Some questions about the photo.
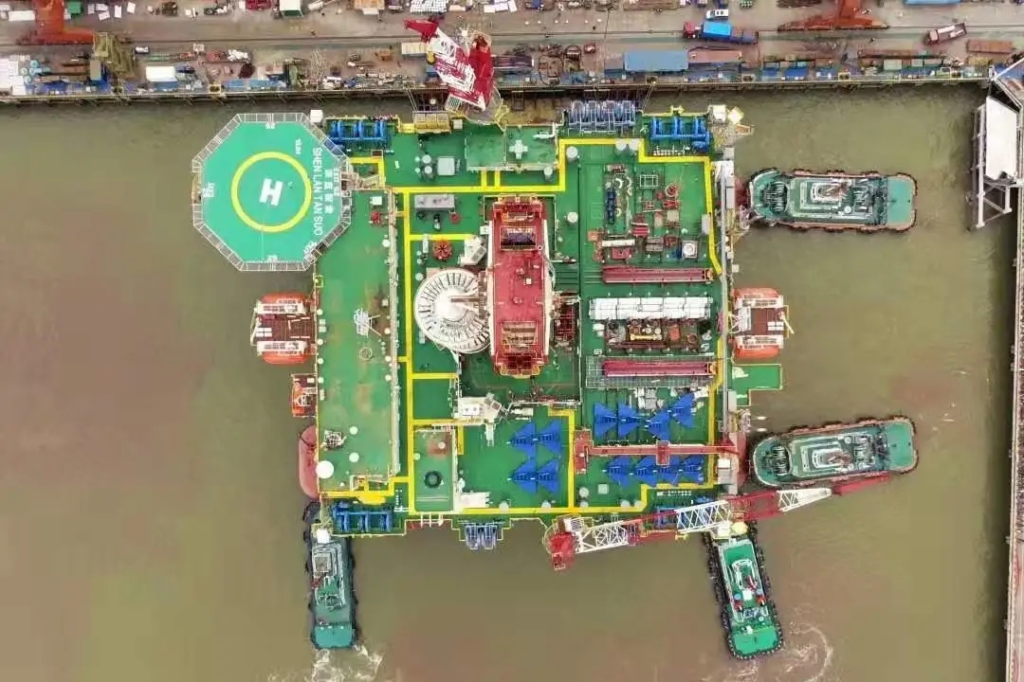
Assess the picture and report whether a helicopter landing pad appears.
Yes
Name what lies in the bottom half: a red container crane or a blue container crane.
red container crane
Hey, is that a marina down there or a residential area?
marina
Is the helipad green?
Yes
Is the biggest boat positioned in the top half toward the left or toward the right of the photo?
right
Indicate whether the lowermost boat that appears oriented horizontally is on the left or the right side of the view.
right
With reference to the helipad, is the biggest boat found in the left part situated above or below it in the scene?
below it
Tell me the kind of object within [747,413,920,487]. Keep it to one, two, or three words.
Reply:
boat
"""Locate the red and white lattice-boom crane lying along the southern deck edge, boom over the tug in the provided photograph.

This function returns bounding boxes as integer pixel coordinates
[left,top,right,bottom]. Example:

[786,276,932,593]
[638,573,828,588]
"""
[542,474,896,569]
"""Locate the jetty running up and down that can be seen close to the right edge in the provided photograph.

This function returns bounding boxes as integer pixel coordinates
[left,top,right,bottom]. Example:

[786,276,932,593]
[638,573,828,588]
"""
[994,80,1024,682]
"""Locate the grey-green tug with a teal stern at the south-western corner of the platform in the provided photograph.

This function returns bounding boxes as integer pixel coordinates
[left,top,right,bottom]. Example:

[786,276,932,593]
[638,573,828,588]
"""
[302,498,362,653]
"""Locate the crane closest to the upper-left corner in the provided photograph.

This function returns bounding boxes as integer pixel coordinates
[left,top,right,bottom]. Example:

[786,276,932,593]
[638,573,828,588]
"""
[26,0,93,40]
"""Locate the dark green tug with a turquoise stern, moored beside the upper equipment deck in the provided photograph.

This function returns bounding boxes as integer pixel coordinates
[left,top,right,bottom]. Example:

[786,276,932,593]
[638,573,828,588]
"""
[745,167,919,234]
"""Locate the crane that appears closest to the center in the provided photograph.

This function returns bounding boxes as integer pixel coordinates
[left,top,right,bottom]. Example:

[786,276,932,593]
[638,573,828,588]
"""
[573,426,739,474]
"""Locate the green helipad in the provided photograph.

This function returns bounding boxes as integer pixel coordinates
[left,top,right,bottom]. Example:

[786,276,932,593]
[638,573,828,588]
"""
[191,112,377,271]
